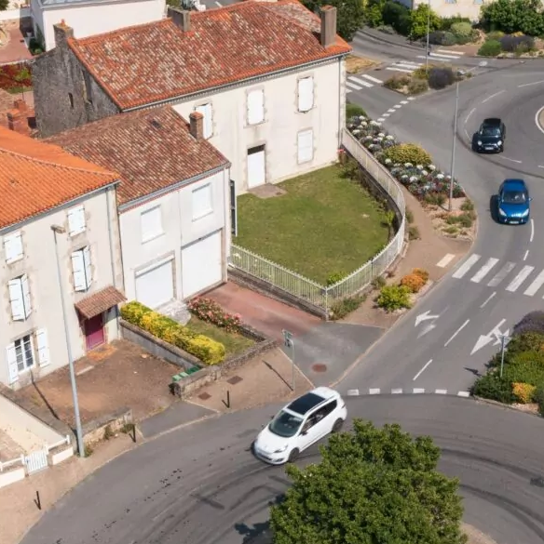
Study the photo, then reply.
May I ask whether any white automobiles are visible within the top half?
No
